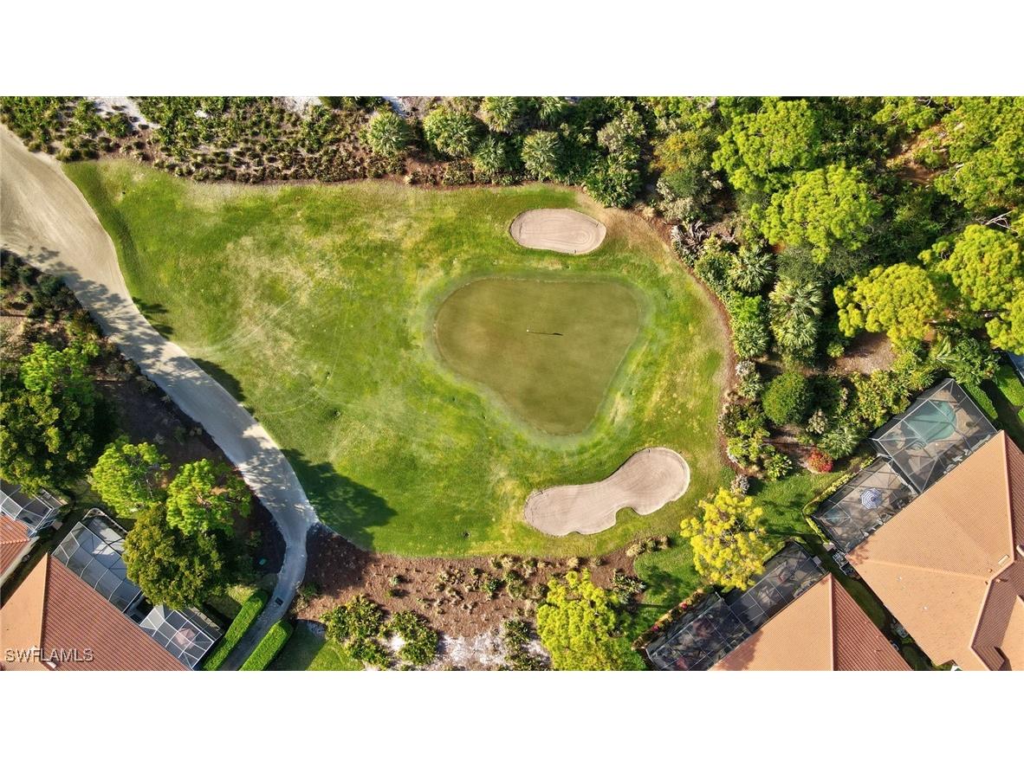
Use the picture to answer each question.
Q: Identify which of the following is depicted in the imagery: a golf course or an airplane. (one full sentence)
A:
I can see a golf course in this picture.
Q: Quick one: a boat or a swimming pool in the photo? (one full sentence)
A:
It is a swimming pool that can be seen here.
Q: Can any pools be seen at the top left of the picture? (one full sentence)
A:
No, no pool appears at the top left of the picture.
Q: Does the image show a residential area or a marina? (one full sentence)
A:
What you see here is a residential area.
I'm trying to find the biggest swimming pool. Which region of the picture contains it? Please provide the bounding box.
[901,397,961,446]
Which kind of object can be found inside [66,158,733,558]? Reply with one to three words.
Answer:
golf course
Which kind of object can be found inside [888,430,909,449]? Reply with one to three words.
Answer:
swimming pool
